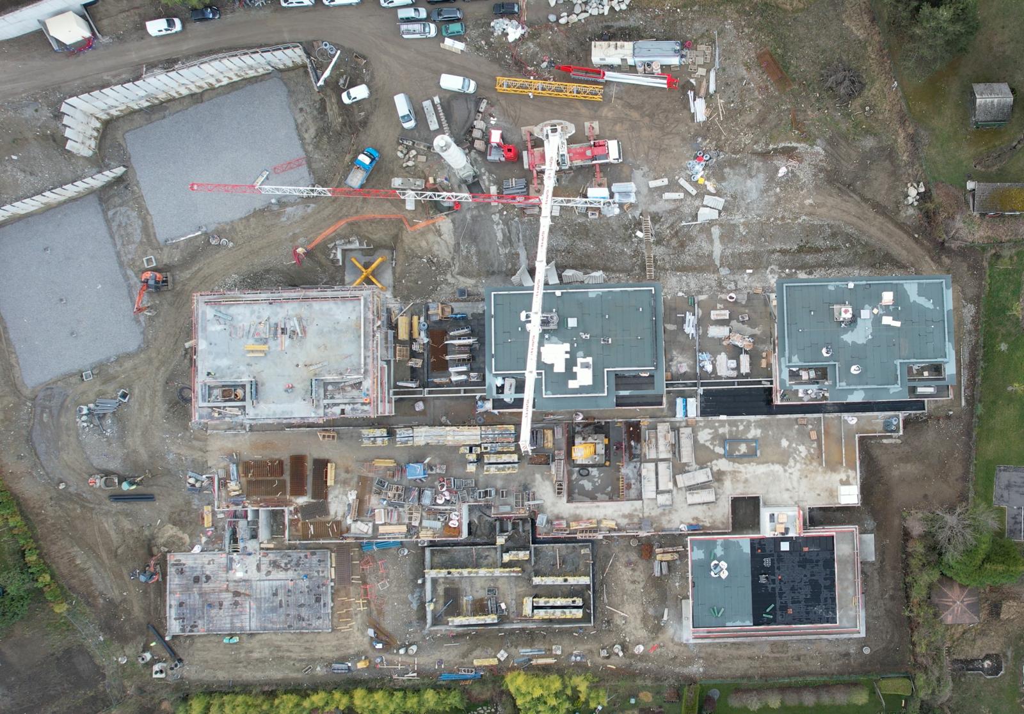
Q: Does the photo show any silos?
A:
Yes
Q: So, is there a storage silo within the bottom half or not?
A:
No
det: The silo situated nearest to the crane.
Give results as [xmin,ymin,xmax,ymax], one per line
[434,134,483,192]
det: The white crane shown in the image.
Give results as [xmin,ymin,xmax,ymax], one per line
[509,118,623,458]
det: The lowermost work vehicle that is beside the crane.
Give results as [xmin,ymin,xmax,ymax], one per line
[483,123,519,160]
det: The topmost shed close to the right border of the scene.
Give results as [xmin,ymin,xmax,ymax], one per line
[973,75,1021,118]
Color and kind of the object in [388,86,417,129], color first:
white van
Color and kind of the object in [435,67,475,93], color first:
white vehicle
